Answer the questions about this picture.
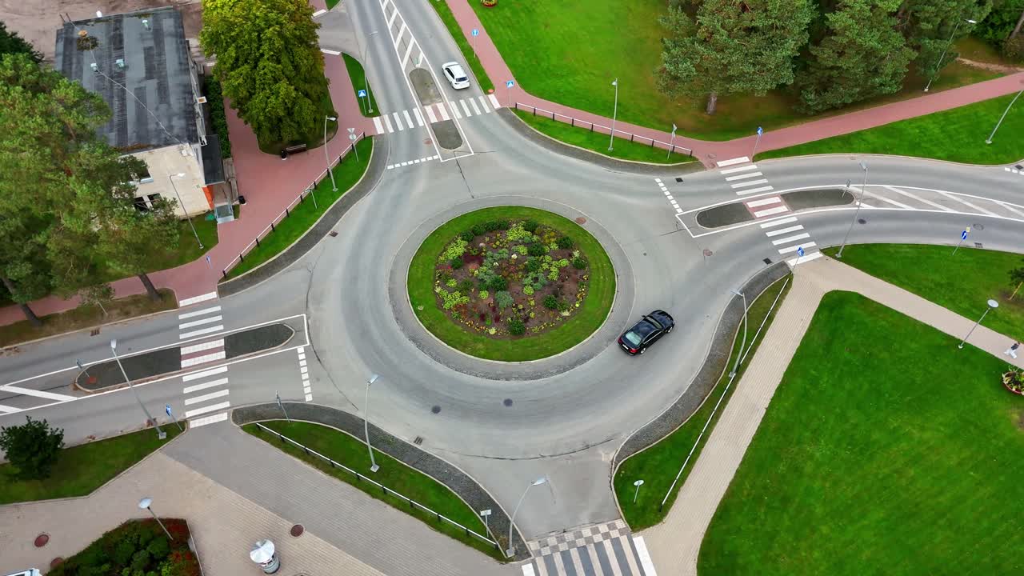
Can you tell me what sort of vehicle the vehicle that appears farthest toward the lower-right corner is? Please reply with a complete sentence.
What you see as the vehicle that appears farthest toward the lower-right corner is a car.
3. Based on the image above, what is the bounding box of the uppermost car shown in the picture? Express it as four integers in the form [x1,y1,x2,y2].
[443,61,470,89]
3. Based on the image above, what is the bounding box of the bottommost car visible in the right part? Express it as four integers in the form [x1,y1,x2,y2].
[618,308,677,356]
